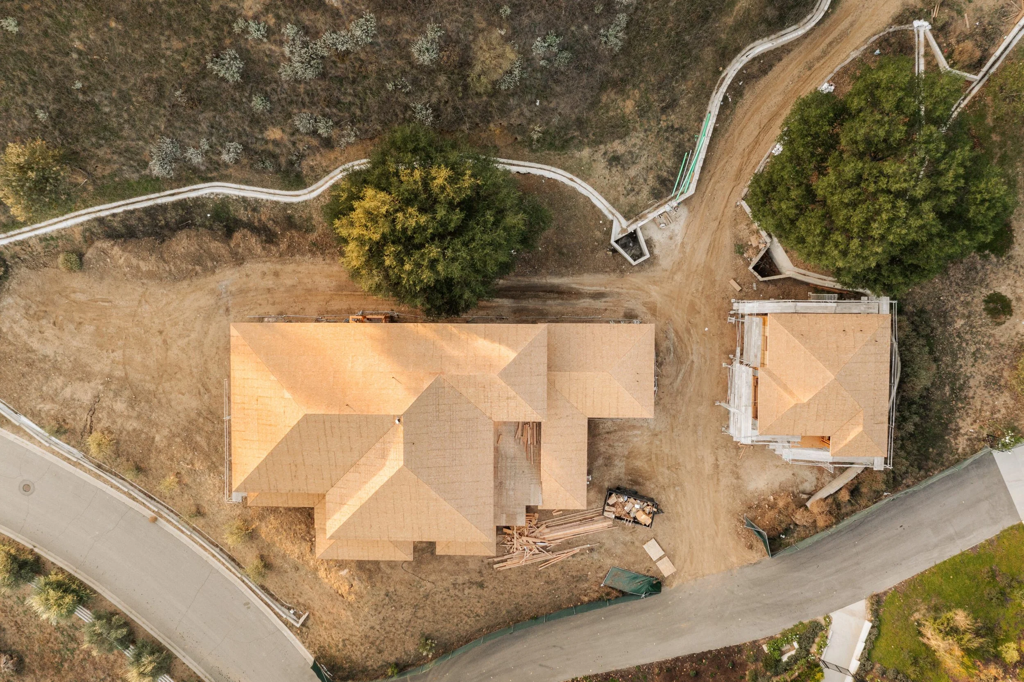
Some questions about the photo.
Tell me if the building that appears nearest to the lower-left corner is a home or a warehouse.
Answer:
home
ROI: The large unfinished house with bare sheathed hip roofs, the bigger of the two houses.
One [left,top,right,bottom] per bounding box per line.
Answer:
[230,313,655,561]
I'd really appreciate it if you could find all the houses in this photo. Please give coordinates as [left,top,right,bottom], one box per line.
[230,313,655,561]
[739,314,891,457]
